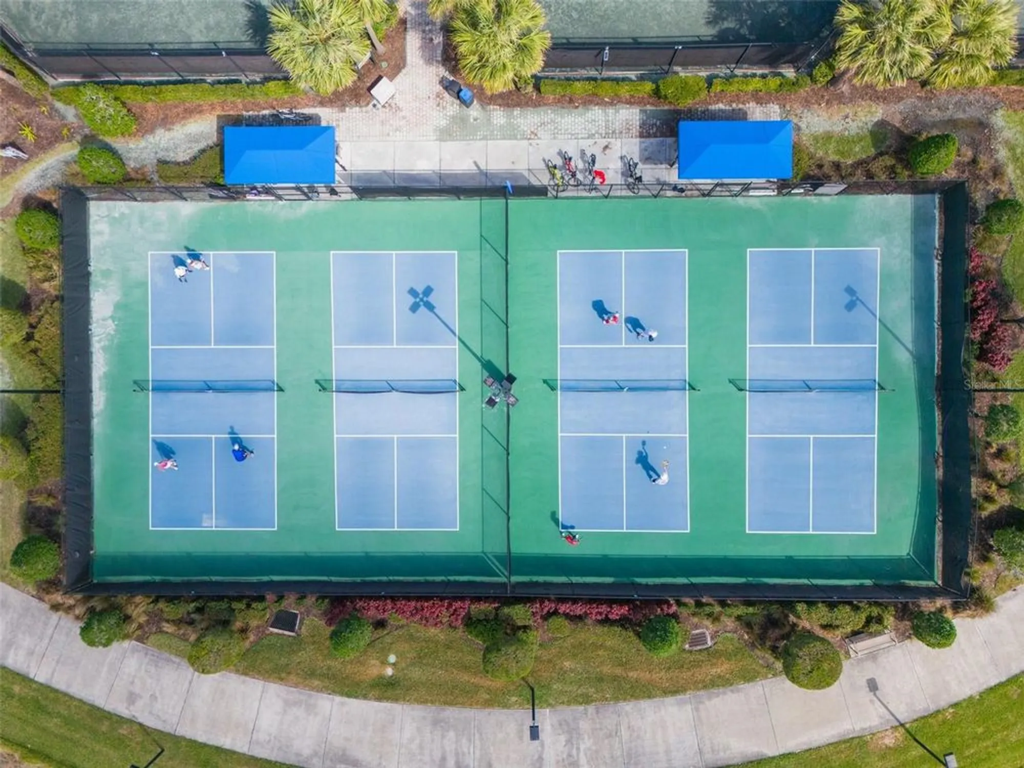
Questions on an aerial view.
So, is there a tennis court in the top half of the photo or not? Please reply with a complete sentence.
Yes, I can see a tennis court in the top half of the photo.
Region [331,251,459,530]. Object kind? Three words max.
sports court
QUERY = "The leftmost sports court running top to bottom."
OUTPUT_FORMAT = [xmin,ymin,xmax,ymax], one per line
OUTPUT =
[149,251,277,530]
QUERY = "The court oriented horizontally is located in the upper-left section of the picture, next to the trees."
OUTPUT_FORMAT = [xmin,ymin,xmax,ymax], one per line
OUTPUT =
[0,0,328,78]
